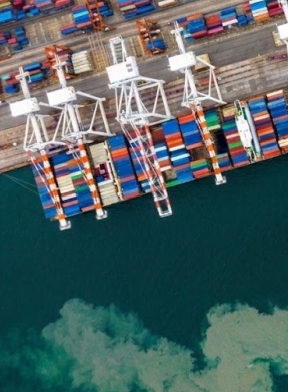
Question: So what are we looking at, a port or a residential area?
port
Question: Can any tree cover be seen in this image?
No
